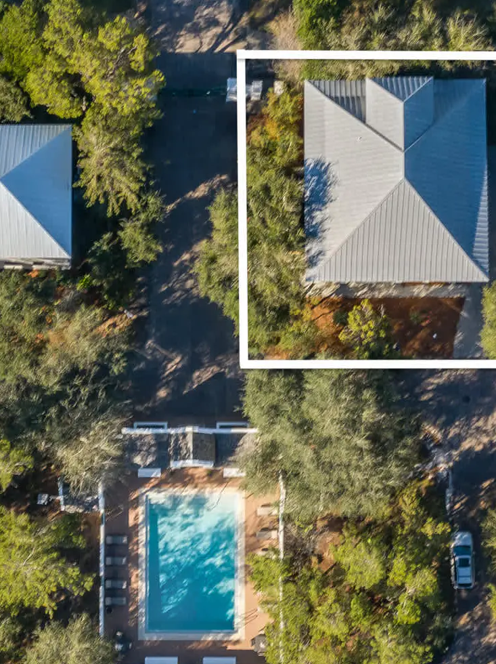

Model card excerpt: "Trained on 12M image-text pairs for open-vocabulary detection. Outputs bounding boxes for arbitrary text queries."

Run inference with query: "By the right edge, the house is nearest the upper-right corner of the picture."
[302,76,493,291]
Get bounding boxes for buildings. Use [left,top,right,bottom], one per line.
[0,123,74,280]
[122,424,255,471]
[302,76,493,291]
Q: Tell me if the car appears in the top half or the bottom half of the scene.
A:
bottom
